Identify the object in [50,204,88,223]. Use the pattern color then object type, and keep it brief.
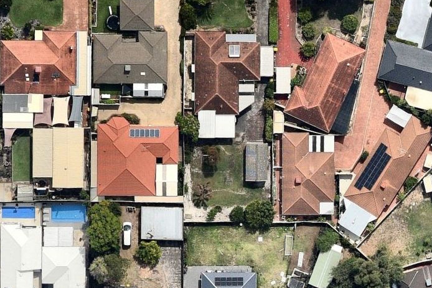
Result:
blue swimming pool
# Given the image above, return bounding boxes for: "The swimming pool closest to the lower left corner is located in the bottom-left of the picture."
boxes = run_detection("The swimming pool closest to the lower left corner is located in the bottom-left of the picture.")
[0,205,36,219]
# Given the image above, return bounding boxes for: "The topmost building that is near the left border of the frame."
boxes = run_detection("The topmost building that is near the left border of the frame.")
[0,30,91,96]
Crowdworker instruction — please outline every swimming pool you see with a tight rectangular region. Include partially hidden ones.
[50,204,88,223]
[0,205,36,219]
